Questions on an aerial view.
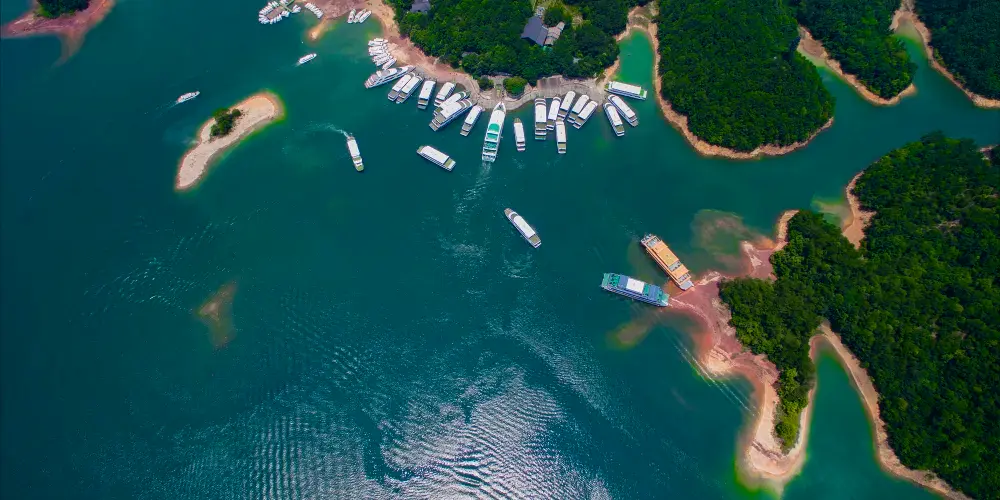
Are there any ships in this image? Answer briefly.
Yes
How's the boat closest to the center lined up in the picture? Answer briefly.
on a diagonal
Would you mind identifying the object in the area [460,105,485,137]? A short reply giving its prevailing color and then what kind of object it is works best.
white boat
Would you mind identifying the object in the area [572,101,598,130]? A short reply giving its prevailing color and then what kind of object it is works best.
white boat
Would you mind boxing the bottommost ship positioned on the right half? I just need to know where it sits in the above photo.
[601,271,669,309]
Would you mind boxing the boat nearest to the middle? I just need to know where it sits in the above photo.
[505,208,542,248]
